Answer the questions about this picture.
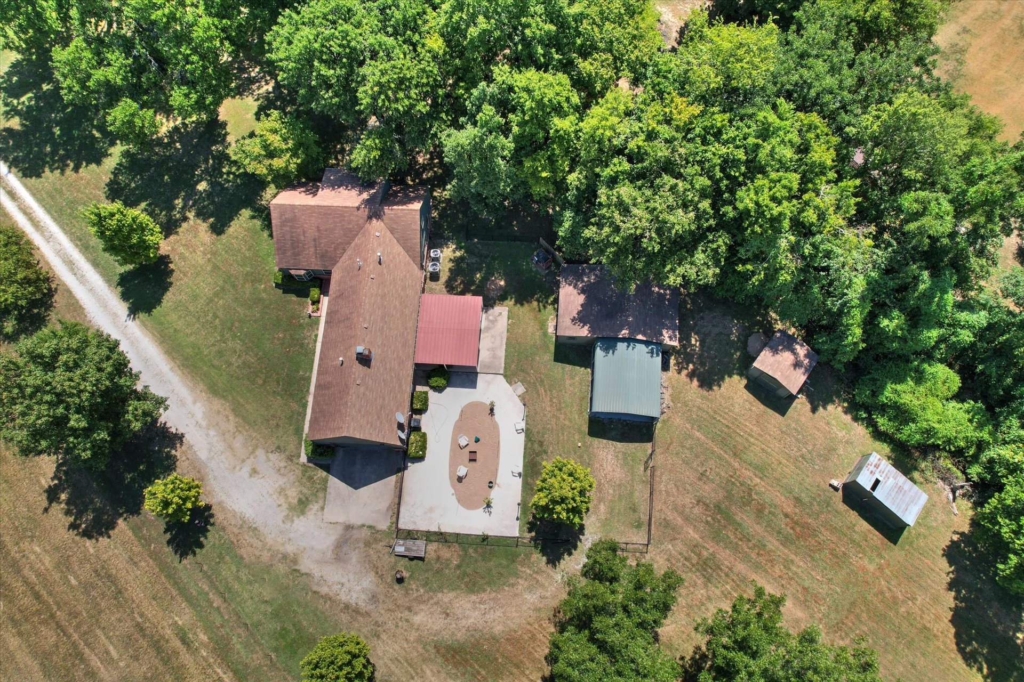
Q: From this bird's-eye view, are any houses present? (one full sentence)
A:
Yes, I can see a house in this picture.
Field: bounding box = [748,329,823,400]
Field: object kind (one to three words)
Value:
shed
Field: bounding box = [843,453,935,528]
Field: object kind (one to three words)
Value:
shed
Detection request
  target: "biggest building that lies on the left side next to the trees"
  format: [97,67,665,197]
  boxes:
[270,167,430,449]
